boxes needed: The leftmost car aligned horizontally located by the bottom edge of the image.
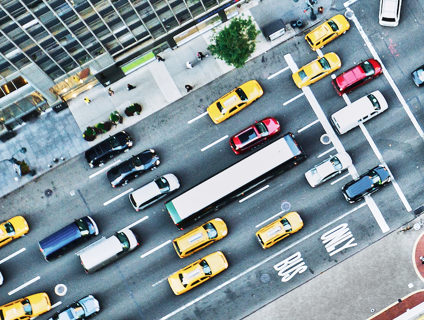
[0,293,53,320]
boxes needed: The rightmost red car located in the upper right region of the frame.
[332,59,382,98]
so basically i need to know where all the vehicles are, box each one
[85,131,134,169]
[107,149,160,189]
[207,82,263,125]
[0,293,53,320]
[304,152,353,189]
[174,131,306,226]
[290,50,342,90]
[169,252,229,296]
[230,115,281,155]
[129,174,181,214]
[342,165,392,204]
[75,229,140,273]
[304,15,353,55]
[331,90,390,133]
[257,215,305,252]
[38,217,100,263]
[332,59,382,98]
[47,295,101,320]
[379,0,400,27]
[0,216,30,249]
[173,219,229,260]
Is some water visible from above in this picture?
No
